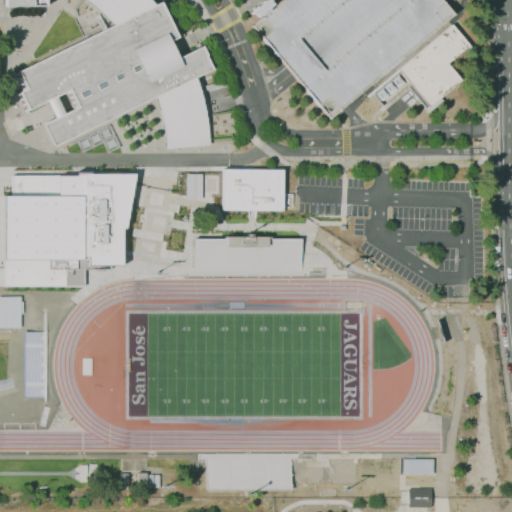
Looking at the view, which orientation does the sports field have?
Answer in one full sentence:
The sports field is oriented horizontally.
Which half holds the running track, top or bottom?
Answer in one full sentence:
Seen from above, the running track lies in the bottom half of the view.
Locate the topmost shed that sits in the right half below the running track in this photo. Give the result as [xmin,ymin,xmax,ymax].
[403,459,436,475]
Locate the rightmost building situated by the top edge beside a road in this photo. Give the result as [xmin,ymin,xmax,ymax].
[401,25,472,112]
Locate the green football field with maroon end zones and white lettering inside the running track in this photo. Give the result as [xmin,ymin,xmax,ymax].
[125,310,364,419]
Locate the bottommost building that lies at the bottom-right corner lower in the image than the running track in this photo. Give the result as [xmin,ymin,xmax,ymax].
[410,488,433,508]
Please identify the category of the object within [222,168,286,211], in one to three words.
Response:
building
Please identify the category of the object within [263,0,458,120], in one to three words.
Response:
building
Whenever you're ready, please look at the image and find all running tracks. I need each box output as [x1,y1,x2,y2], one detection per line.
[0,280,442,451]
